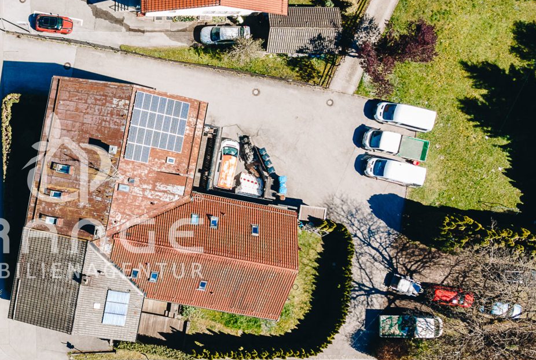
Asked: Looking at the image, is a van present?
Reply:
Yes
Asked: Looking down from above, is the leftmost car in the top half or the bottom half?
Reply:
top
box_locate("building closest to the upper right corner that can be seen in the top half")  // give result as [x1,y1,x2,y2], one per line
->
[263,7,344,57]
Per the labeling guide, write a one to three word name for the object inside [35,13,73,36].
car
